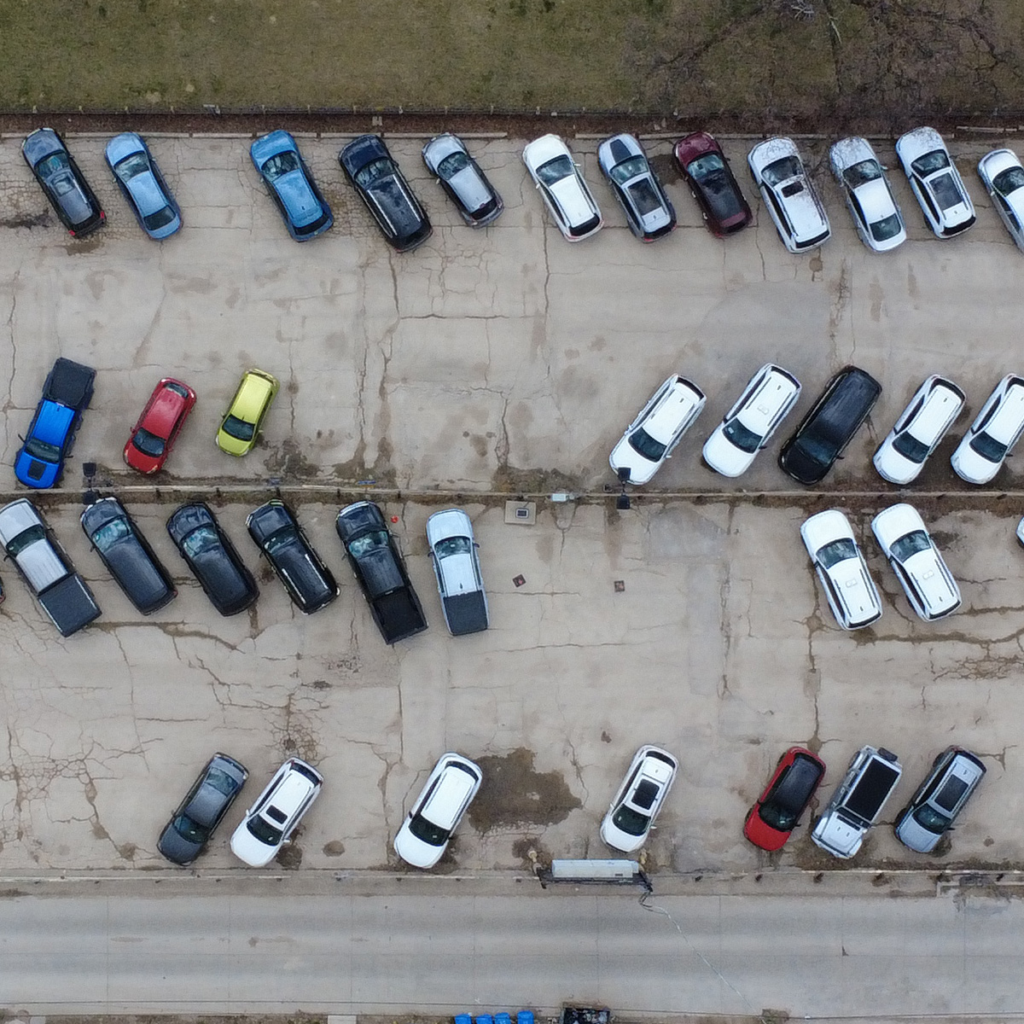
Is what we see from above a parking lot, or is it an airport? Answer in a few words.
parking lot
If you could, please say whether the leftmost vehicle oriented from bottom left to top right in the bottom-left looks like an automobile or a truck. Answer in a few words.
automobile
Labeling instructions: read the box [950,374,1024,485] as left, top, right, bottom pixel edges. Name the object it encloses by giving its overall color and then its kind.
white car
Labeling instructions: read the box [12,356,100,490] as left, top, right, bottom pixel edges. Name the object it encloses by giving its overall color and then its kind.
blue truck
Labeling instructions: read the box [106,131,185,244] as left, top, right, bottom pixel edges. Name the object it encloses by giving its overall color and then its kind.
blue car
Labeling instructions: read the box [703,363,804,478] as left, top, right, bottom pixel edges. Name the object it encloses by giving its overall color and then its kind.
white car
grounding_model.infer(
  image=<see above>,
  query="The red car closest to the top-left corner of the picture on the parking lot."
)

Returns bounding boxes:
[125,378,198,473]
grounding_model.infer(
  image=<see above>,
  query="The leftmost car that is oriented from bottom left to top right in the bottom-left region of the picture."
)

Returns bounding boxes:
[160,752,248,865]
